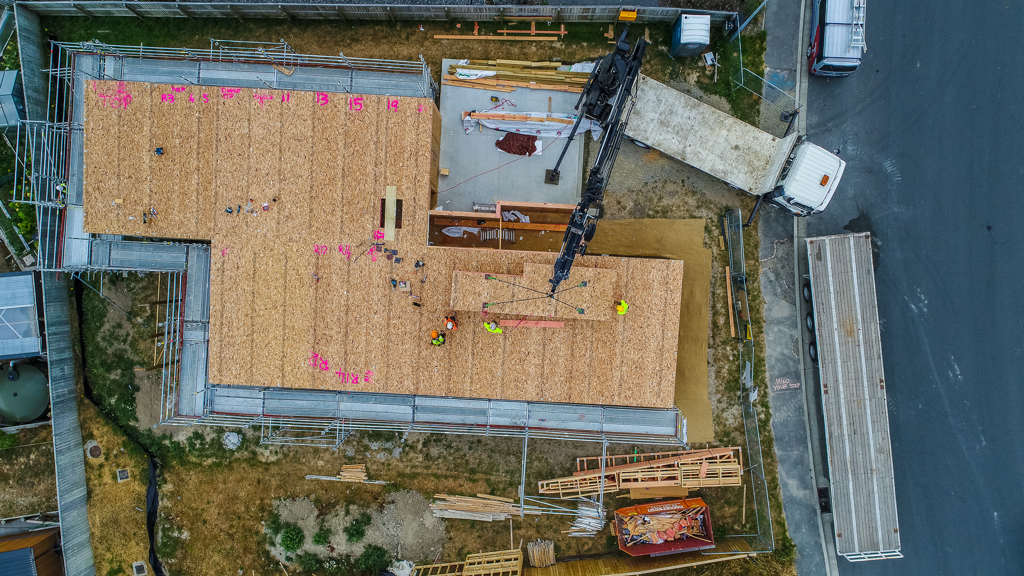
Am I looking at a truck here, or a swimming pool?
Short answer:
truck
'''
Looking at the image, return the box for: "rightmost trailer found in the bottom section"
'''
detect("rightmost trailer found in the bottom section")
[799,232,911,565]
